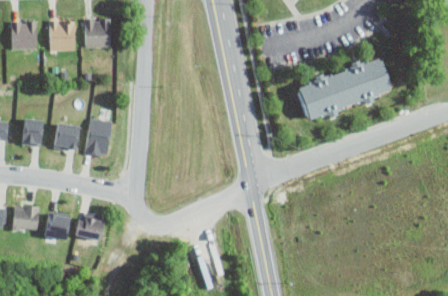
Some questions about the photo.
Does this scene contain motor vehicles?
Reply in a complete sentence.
Yes, the picture does show a motor vehicle.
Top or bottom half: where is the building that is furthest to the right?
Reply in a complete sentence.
The top half of the photo is where the building that is furthest to the right is.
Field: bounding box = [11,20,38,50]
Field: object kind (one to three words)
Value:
house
